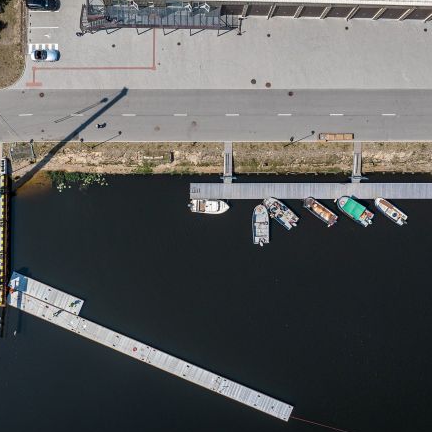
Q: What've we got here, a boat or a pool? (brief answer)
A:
boat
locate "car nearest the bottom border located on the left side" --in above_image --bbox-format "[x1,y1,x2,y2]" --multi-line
[32,48,59,62]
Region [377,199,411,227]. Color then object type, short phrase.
white boat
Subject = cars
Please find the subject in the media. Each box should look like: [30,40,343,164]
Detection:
[32,48,59,62]
[27,0,61,12]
